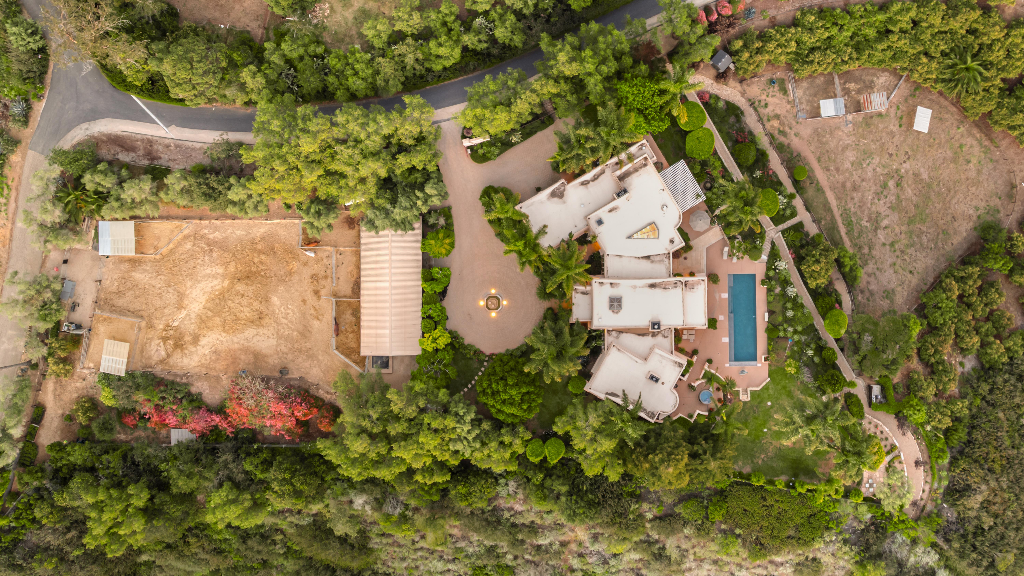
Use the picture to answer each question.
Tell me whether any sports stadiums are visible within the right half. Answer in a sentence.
No, no sports stadium can be made out within the right half.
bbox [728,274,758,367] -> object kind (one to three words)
swimming pool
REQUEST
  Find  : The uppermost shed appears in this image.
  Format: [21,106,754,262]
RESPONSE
[706,51,730,75]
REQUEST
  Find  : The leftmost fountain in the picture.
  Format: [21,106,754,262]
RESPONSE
[484,294,502,312]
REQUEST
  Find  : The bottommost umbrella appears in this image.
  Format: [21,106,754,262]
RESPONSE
[690,210,711,230]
